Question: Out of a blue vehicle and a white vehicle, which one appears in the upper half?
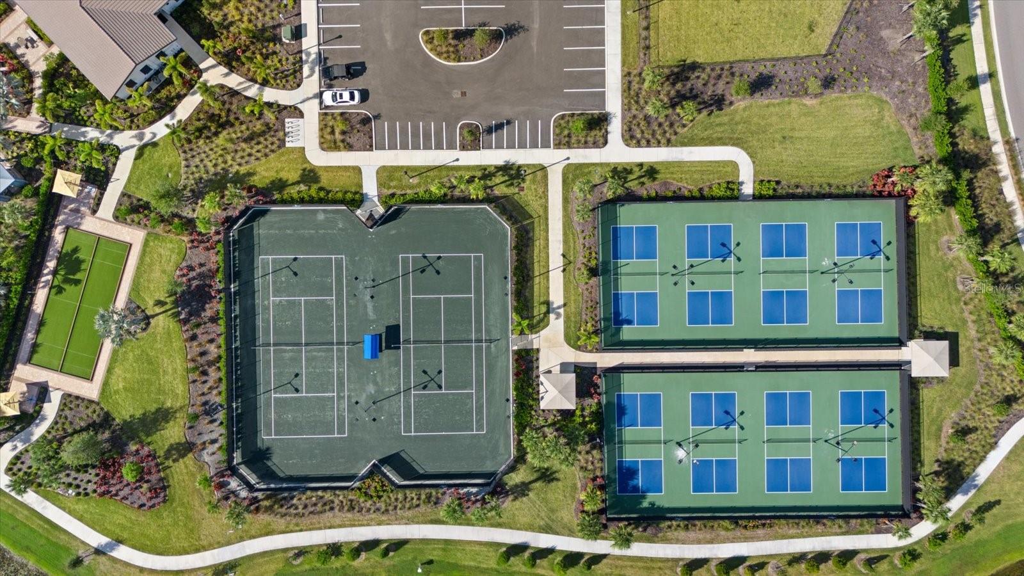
white vehicle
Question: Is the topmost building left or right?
left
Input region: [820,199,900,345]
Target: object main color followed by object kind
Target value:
green sports court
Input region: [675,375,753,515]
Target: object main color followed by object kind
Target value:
green sports court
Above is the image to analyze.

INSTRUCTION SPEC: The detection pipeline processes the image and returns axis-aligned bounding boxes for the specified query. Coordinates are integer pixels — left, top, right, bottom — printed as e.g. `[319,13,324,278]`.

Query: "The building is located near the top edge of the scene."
[18,0,185,103]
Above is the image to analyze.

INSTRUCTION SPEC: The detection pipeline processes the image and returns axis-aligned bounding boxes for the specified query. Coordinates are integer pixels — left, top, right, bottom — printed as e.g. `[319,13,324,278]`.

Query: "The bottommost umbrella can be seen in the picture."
[0,391,37,417]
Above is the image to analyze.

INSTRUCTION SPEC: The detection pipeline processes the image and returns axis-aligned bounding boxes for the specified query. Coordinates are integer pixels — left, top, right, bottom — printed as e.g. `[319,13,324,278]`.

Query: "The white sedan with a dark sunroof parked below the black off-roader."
[322,88,360,106]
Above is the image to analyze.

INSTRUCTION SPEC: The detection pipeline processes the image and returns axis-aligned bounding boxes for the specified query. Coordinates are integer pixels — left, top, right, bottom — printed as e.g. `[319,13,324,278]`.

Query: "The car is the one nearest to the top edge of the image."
[320,62,352,81]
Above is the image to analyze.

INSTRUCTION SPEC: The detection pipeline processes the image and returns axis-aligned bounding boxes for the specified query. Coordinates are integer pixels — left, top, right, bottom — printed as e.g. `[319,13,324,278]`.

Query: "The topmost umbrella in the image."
[53,169,96,197]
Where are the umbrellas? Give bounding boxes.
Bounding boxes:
[53,169,96,197]
[0,391,37,417]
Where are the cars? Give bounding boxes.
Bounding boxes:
[320,62,352,81]
[322,88,360,106]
